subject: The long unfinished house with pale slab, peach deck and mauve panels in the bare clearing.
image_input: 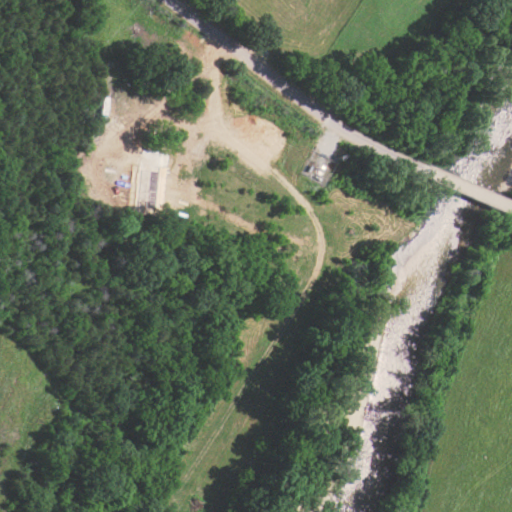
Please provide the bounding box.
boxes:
[129,149,170,211]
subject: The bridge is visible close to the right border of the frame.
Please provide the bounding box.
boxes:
[441,170,512,214]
